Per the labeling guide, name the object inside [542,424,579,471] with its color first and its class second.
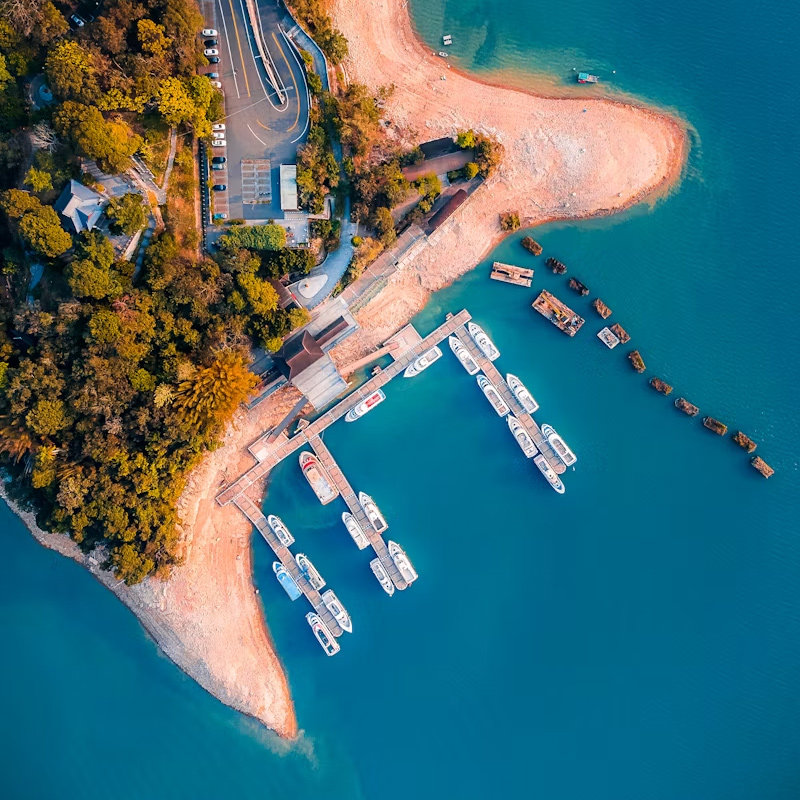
white boat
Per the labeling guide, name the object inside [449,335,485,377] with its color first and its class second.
white boat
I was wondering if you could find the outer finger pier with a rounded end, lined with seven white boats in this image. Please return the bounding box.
[455,321,564,473]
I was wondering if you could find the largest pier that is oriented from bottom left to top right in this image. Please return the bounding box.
[216,309,472,506]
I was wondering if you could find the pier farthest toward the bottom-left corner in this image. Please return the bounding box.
[235,496,345,634]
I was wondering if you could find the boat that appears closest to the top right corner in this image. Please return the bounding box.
[577,70,599,84]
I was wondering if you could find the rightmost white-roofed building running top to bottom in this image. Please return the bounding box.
[280,164,298,211]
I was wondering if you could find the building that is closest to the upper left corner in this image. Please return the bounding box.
[55,178,106,233]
